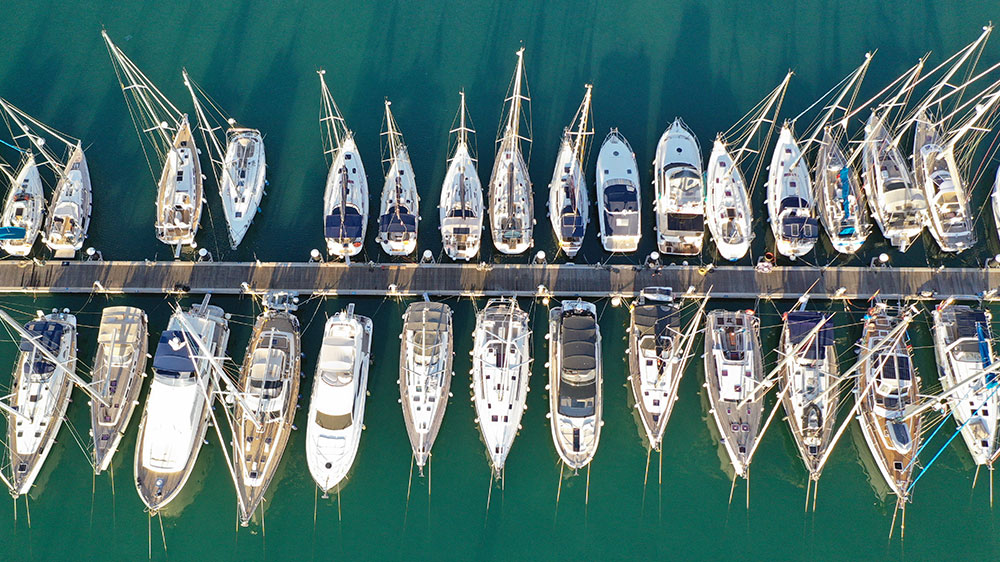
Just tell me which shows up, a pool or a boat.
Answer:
boat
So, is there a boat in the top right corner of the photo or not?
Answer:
Yes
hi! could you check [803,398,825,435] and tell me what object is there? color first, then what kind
gray boat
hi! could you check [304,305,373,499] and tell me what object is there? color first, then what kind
white boat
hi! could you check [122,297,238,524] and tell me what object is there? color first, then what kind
white boat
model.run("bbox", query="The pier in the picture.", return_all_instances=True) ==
[0,261,1000,300]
